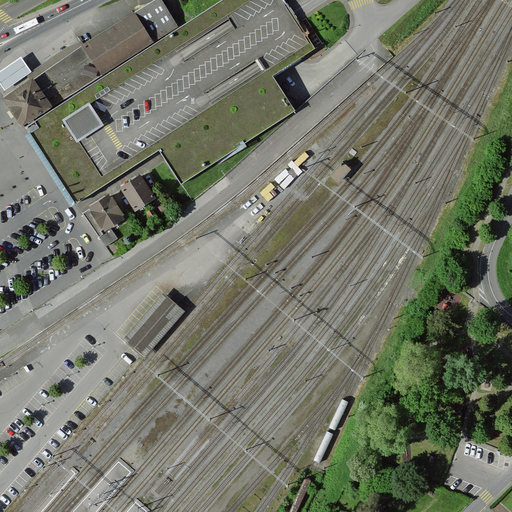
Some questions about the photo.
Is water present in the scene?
No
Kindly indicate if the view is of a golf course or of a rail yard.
rail yard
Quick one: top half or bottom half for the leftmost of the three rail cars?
bottom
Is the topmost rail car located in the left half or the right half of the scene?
right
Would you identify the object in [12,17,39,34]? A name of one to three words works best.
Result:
vehicle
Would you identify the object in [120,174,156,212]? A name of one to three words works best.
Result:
house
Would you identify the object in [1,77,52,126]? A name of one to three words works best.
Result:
building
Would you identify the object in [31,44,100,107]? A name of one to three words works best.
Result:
building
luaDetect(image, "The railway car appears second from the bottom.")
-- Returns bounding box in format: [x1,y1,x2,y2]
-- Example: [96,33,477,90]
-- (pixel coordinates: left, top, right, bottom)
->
[314,430,334,463]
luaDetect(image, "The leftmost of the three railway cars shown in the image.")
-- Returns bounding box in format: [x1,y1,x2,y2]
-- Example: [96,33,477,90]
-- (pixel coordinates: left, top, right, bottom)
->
[288,476,312,512]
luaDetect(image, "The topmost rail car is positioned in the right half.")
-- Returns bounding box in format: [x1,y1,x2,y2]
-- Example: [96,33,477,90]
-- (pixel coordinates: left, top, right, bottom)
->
[330,398,349,431]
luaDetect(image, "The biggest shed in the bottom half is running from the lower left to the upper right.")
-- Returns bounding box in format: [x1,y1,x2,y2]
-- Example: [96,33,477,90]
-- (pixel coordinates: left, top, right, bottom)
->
[122,294,186,358]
